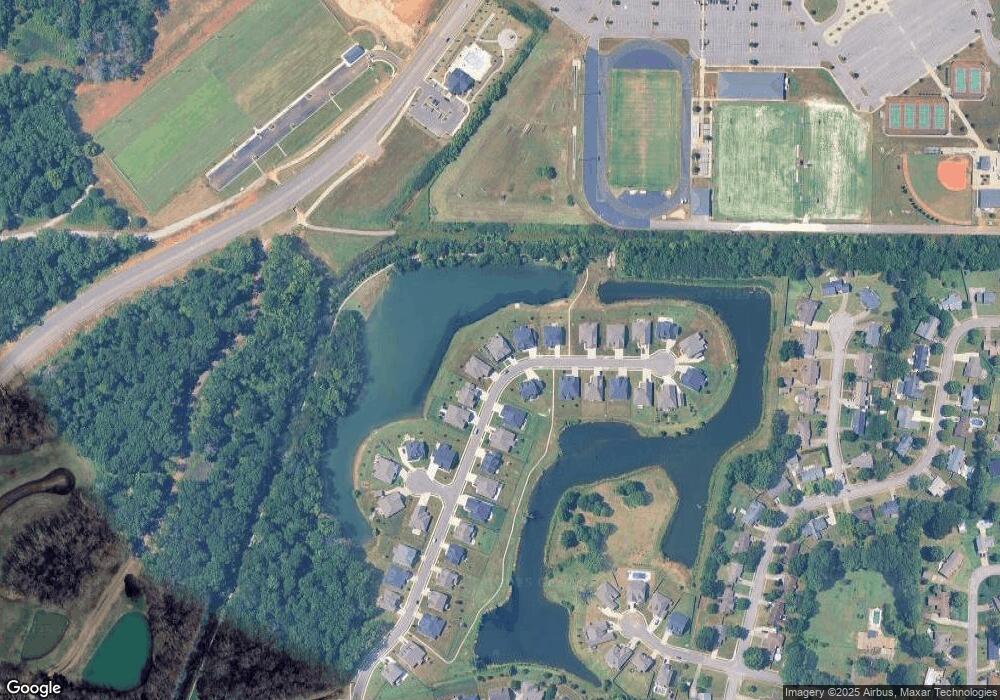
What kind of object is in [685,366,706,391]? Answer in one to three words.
house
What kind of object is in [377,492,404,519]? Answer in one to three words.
house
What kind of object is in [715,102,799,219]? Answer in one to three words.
sports field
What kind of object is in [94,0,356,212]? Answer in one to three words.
sports field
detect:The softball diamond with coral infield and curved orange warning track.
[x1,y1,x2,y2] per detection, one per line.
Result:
[902,151,972,225]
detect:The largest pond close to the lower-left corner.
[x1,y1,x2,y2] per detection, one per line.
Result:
[82,611,151,690]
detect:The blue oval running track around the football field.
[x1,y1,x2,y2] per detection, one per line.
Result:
[584,39,692,228]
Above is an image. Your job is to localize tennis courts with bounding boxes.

[970,68,980,93]
[919,103,930,128]
[934,103,945,128]
[955,68,967,93]
[890,103,900,128]
[904,103,915,128]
